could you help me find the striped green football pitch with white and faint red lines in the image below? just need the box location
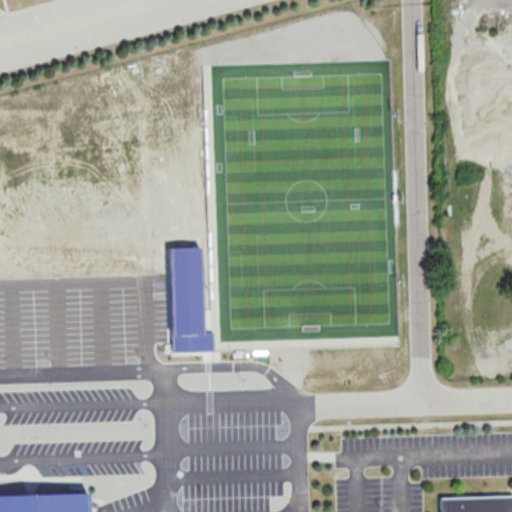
[212,60,398,342]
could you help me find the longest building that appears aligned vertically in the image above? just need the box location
[164,248,214,354]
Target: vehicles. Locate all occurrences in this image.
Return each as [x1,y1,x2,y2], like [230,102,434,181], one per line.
[417,20,425,72]
[448,205,452,217]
